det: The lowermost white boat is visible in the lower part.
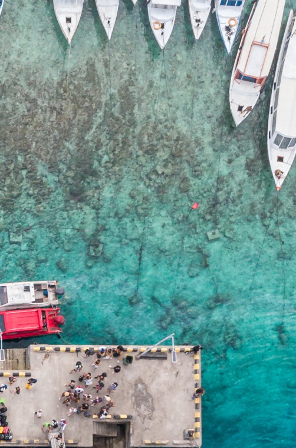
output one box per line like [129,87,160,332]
[0,279,66,310]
